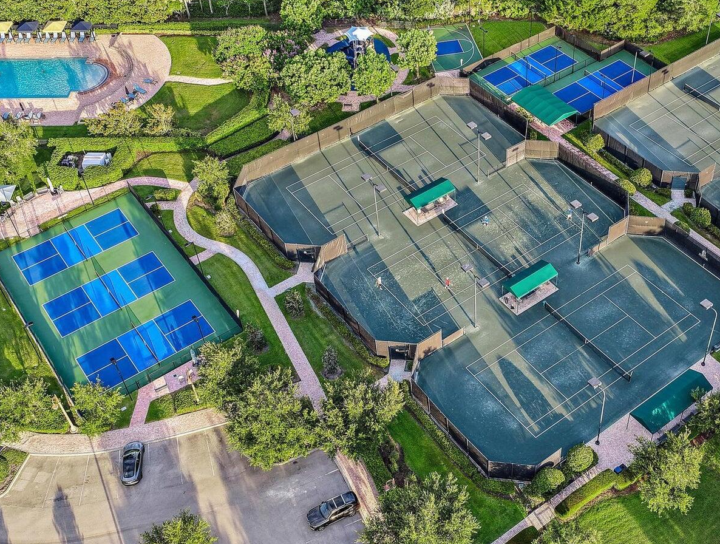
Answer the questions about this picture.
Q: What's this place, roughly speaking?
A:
sports ground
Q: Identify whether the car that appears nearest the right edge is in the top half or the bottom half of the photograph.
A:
bottom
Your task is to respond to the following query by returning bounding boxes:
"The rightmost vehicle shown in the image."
[309,493,364,532]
